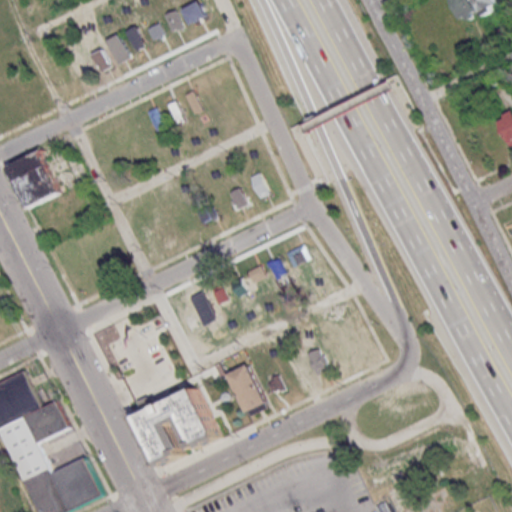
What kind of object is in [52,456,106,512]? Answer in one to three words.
building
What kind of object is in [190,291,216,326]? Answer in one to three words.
house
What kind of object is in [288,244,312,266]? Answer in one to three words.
house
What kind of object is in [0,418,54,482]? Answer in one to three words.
shed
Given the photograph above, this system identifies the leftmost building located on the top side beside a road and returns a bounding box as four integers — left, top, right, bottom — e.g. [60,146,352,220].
[4,147,63,215]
